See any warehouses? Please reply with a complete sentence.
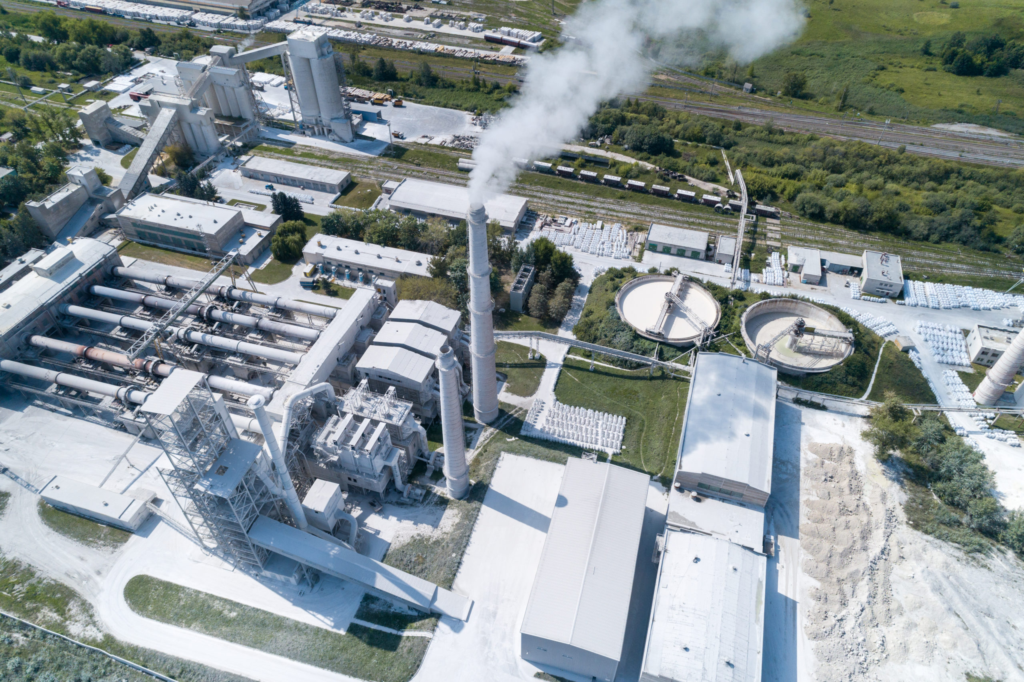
Yes, a warehouse can be made out from above.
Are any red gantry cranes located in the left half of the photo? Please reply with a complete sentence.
No, no red gantry crane can be made out in the left half of the photo.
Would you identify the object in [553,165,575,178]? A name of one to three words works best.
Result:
rail car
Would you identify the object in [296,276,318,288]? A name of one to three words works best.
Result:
vehicle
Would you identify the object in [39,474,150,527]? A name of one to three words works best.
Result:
building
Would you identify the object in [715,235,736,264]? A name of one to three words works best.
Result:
shed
